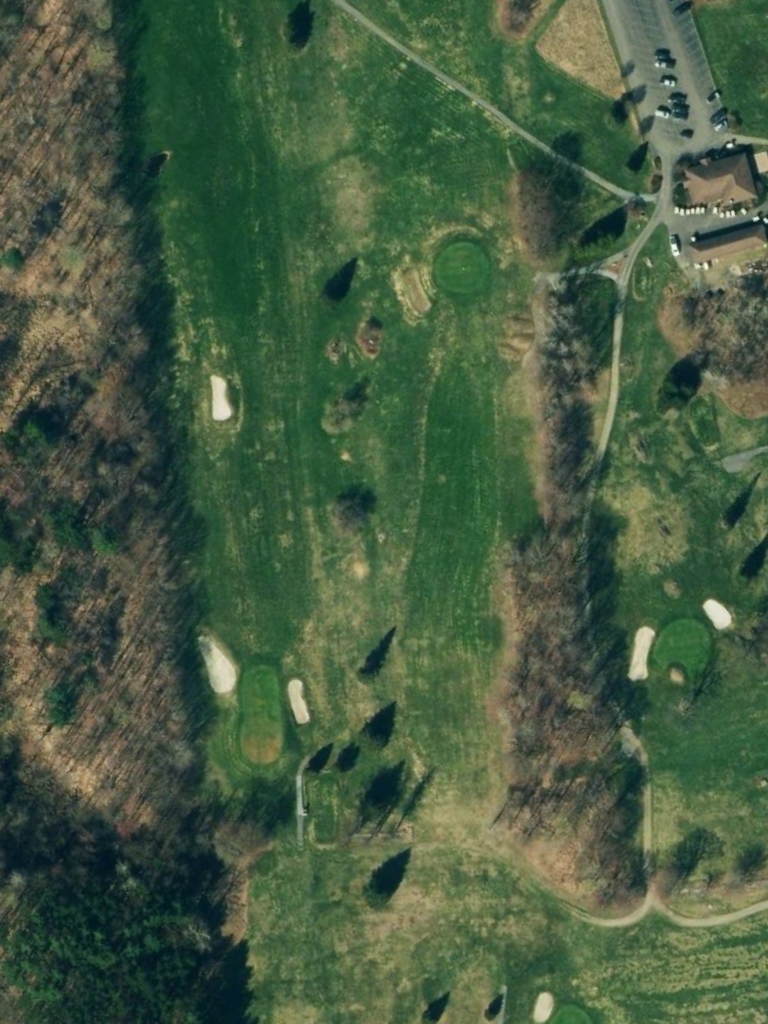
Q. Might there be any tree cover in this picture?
Yes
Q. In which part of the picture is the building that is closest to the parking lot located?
top right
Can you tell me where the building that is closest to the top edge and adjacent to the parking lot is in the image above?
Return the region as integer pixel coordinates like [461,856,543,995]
[683,152,759,212]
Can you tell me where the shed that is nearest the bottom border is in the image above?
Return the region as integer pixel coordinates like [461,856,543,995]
[691,224,768,262]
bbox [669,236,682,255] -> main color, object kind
white vehicle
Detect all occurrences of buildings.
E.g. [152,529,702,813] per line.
[683,152,759,212]
[691,224,768,262]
